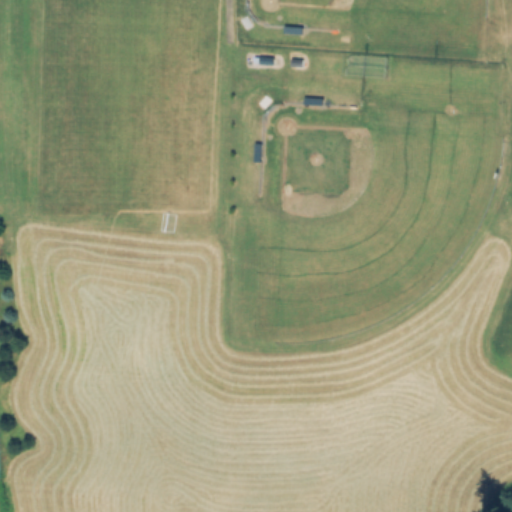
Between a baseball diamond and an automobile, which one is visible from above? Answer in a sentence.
Visible in the photo is a baseball diamond.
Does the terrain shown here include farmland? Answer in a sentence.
Yes, the picture does contain farmland.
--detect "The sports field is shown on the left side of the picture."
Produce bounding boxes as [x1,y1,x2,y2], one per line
[40,0,222,214]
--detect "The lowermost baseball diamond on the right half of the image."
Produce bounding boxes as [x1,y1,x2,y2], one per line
[241,100,503,343]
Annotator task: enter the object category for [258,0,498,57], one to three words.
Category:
baseball field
